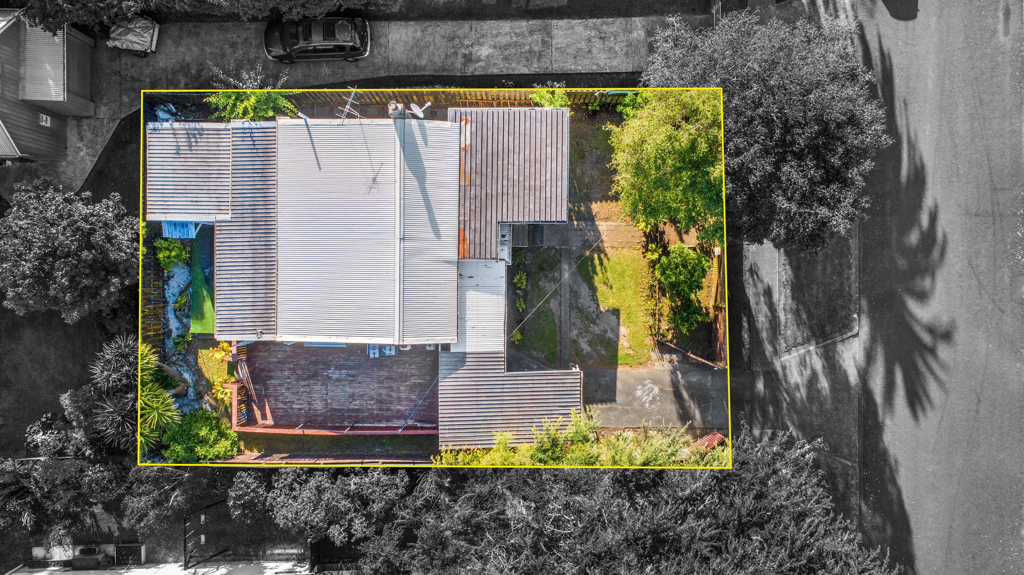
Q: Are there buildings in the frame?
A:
Yes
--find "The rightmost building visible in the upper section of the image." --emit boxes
[146,97,571,351]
